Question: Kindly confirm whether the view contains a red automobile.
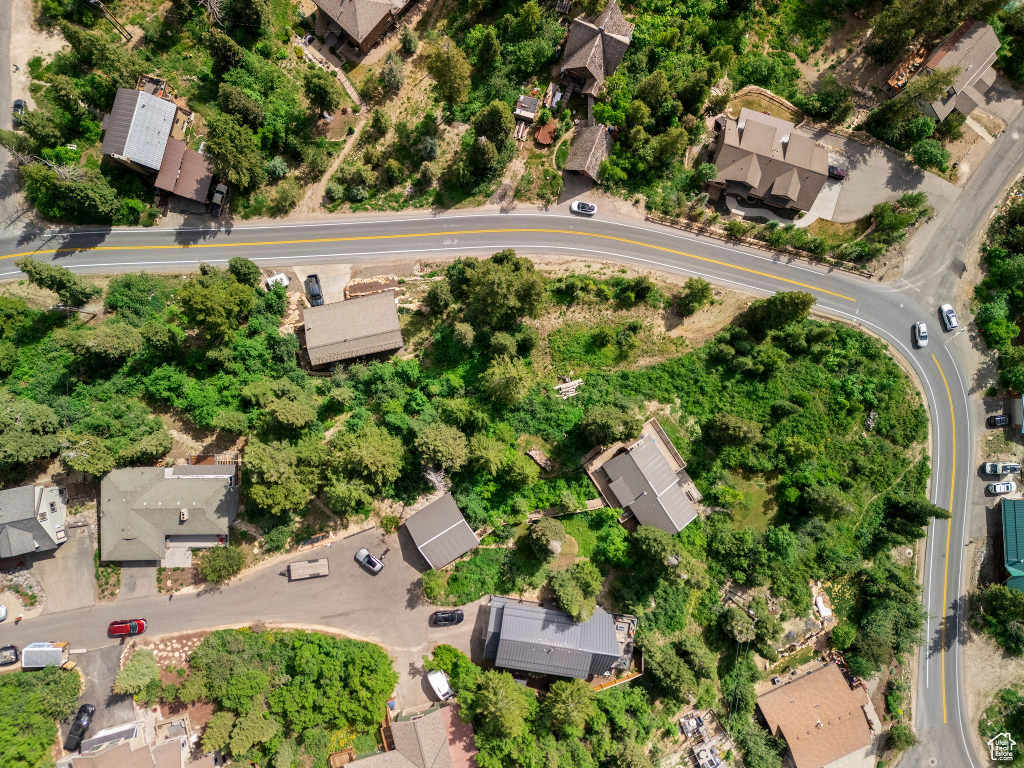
Yes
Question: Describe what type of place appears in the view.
residential area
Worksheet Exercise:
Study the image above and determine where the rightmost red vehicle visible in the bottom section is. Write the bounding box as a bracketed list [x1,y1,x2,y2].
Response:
[107,618,147,638]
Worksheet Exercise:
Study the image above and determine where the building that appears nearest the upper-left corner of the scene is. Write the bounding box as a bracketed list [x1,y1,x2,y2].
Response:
[101,88,198,176]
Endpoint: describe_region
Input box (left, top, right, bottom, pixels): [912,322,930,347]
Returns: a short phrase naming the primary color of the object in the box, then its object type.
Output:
white car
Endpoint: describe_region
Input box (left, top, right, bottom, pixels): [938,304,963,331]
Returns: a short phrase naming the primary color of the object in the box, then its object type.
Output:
white car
